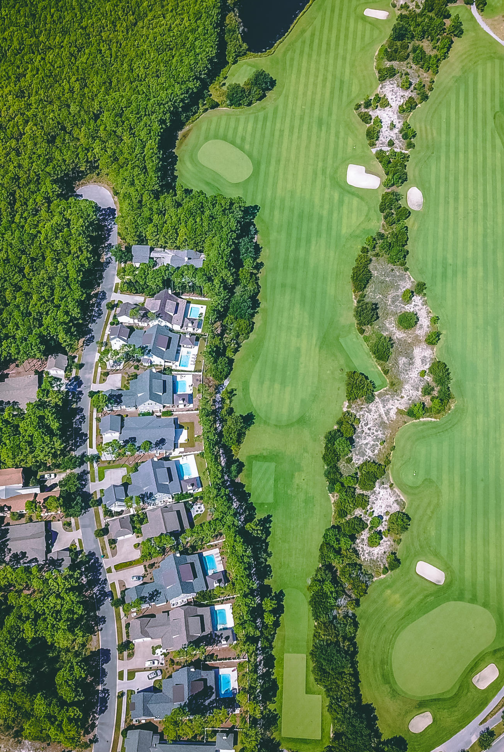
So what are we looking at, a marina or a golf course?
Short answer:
golf course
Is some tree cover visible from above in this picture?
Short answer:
Yes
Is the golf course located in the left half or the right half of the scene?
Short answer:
right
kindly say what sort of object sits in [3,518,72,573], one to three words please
house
